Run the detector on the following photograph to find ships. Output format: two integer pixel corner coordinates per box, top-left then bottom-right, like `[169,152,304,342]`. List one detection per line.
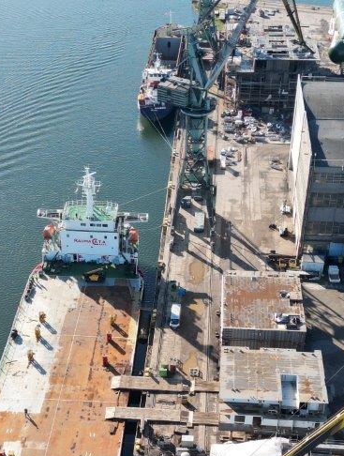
[140,0,181,128]
[0,163,149,456]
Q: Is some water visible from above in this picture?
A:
Yes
